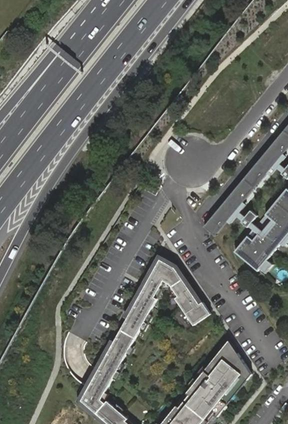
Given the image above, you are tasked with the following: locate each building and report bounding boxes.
[162,342,253,424]
[202,125,288,236]
[236,188,288,274]
[75,256,212,424]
